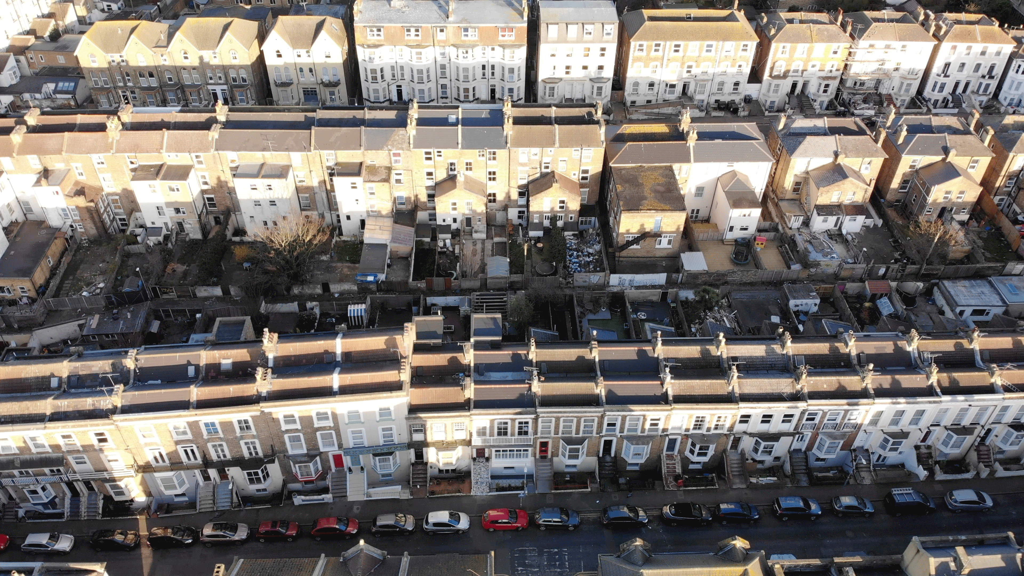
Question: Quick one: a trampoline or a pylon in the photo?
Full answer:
The image shows a trampoline.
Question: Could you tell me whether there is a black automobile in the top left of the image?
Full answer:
No, looking in the top left of the image, there is no black automobile.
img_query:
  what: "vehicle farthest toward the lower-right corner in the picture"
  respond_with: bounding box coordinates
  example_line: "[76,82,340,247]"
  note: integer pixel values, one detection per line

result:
[941,489,993,514]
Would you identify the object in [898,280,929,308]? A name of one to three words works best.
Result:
trampoline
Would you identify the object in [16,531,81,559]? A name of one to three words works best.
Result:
car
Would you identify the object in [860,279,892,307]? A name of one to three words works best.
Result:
shed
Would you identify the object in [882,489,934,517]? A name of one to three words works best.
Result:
vehicle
